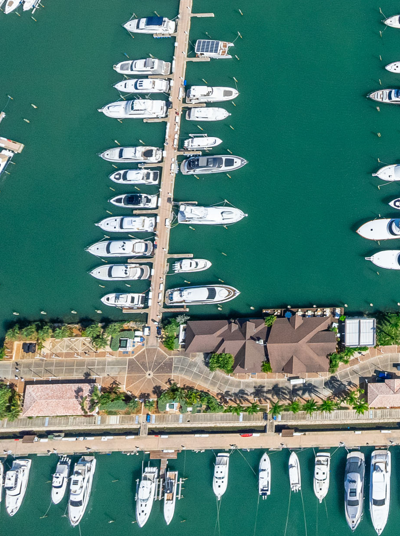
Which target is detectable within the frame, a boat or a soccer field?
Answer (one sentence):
There is a boat in the scene.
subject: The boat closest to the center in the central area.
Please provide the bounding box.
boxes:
[174,259,212,273]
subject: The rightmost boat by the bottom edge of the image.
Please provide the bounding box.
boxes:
[368,450,392,535]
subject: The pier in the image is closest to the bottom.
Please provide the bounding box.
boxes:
[150,452,179,478]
